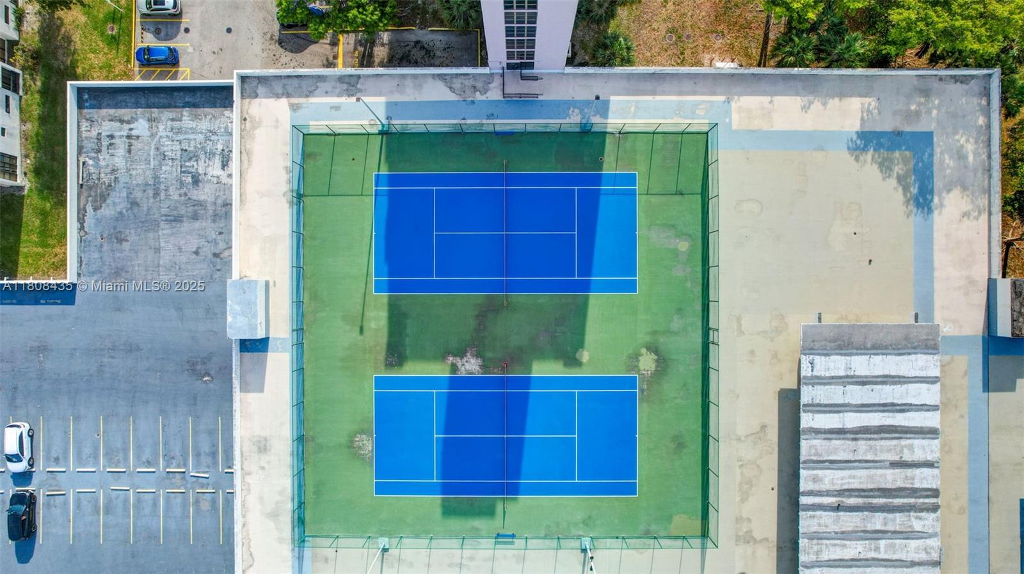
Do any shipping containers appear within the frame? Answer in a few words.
No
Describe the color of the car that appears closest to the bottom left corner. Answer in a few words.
black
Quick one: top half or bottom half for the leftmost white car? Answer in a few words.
bottom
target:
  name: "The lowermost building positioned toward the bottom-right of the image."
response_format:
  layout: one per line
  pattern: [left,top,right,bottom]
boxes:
[798,312,940,574]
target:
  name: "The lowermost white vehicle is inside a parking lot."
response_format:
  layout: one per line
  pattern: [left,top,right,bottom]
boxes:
[3,423,33,472]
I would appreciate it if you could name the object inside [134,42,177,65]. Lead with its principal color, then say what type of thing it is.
blue car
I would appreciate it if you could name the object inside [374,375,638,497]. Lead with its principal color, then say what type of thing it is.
blue tennis court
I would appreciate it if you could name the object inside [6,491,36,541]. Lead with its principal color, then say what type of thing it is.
black car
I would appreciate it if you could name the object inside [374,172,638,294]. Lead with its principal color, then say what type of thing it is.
blue tennis court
